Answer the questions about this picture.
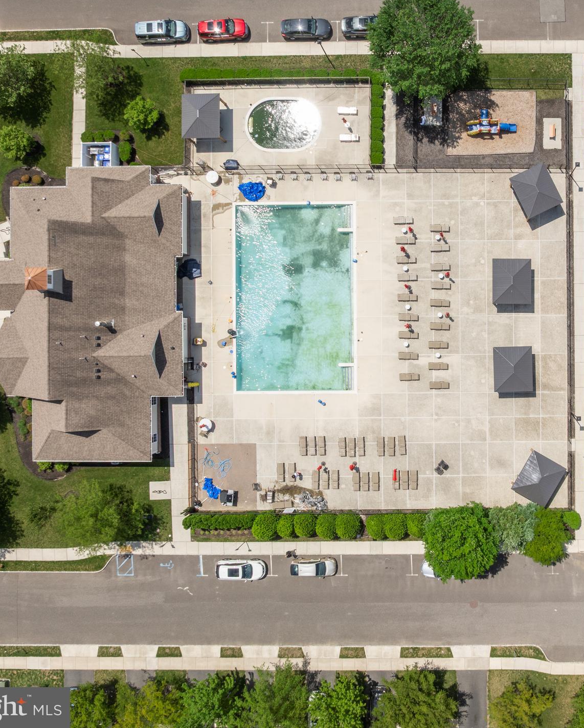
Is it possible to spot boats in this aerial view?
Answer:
No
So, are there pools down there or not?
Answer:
Yes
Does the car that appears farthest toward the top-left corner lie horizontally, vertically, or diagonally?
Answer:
horizontally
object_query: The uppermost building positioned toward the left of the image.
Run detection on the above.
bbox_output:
[181,93,226,143]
